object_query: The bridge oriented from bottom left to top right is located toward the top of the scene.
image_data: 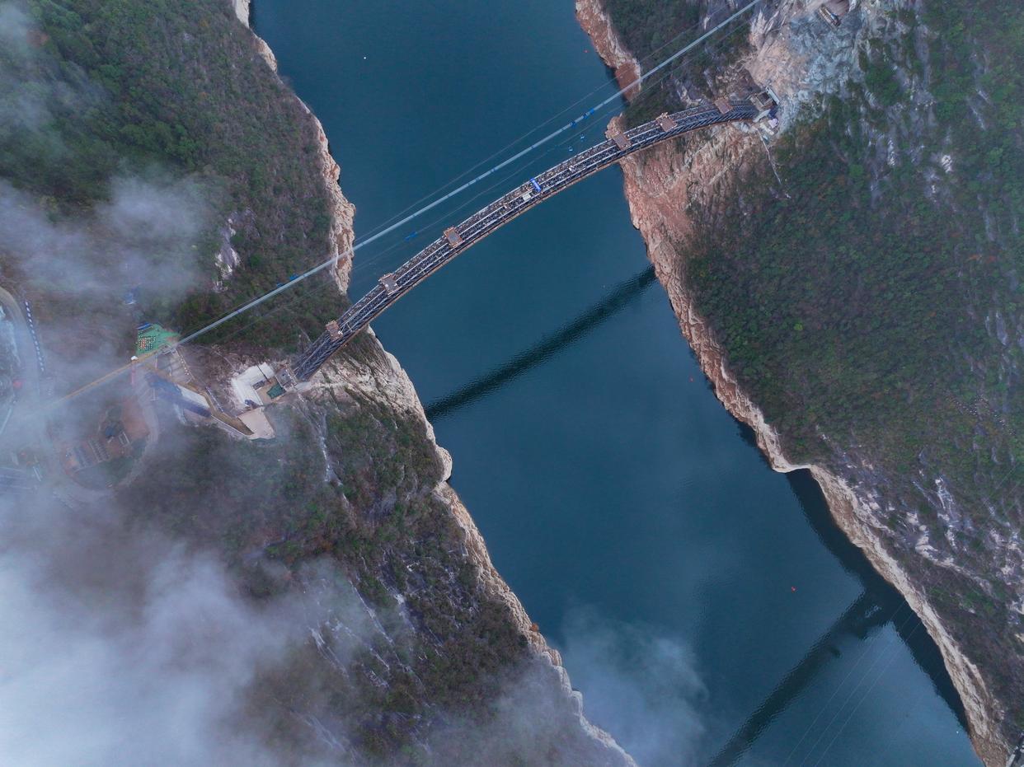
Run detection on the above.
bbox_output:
[291,92,764,395]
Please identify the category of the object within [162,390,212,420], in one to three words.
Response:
shed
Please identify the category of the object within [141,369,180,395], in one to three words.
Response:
shed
